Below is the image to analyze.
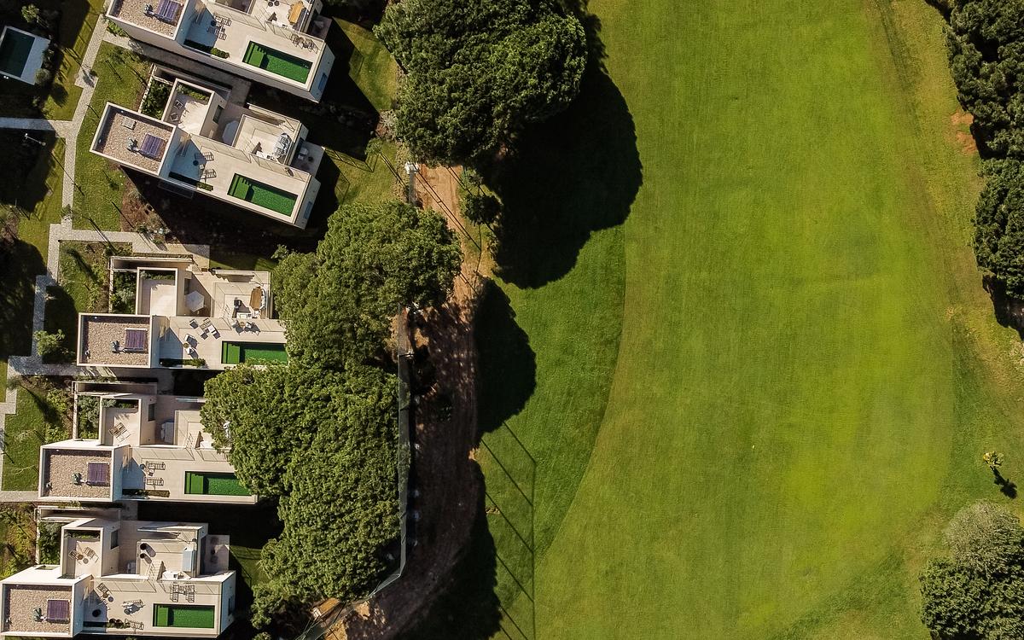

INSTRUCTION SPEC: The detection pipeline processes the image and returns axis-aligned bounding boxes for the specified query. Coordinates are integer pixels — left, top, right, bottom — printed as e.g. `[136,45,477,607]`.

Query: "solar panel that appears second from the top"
[142,128,169,158]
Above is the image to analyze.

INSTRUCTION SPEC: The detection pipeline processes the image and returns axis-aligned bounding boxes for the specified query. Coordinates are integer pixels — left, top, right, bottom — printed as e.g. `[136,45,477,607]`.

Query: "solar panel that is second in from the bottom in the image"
[88,459,111,483]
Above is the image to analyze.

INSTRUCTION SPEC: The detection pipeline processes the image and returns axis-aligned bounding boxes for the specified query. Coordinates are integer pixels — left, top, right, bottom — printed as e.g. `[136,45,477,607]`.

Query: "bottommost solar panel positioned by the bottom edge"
[50,597,73,620]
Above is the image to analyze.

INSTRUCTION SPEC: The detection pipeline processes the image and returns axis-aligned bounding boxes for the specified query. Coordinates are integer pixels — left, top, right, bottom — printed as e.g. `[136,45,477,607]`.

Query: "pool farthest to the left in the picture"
[0,23,49,84]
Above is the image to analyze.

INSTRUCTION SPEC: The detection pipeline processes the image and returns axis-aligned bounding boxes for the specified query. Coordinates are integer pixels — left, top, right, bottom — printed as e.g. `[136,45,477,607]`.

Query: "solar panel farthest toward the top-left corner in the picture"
[157,0,185,23]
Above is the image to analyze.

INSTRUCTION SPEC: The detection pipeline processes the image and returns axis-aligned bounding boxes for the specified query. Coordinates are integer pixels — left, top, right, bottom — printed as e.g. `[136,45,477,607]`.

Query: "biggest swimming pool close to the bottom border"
[149,602,214,625]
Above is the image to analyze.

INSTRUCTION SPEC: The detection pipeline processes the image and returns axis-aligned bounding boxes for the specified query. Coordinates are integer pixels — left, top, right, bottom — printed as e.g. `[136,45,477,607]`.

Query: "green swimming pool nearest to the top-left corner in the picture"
[245,41,312,83]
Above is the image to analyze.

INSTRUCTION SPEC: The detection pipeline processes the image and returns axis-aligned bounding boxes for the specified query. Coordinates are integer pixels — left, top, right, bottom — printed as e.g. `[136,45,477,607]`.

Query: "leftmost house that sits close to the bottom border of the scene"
[2,505,234,639]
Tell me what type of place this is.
golf course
